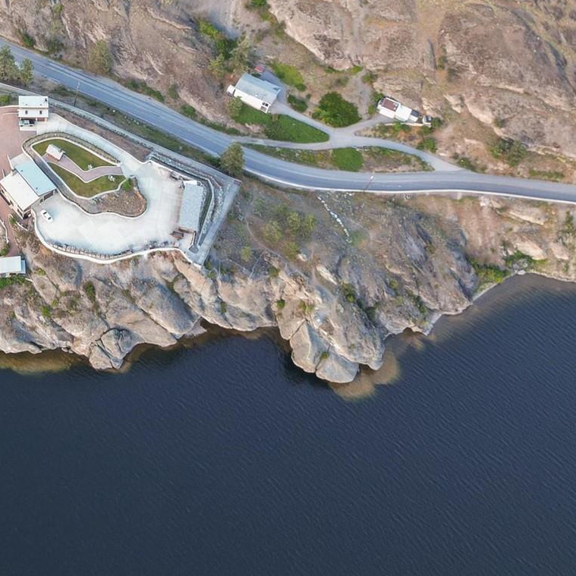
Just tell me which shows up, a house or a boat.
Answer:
house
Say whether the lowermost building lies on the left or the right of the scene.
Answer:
left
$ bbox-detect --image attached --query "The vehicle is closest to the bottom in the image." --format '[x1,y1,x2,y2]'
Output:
[40,209,53,223]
